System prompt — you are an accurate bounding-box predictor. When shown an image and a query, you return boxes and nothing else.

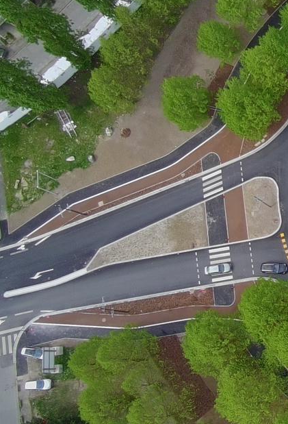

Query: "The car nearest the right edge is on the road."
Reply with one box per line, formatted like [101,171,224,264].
[259,261,288,274]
